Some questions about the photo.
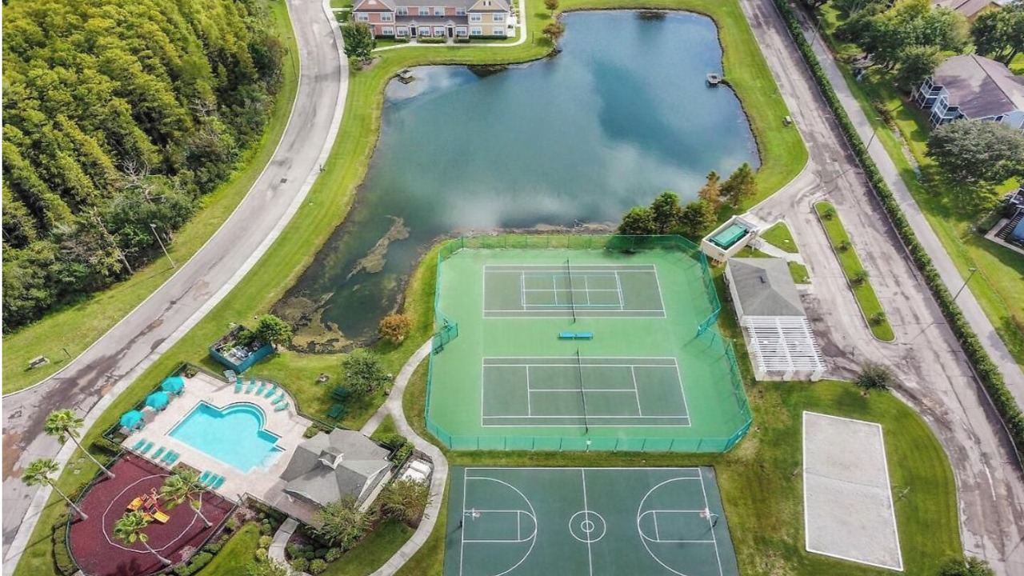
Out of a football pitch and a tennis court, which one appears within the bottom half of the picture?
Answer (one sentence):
You can see a tennis court within the bottom half of the picture.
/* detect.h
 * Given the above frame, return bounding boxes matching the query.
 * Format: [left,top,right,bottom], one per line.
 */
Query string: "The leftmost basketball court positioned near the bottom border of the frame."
[443,467,738,576]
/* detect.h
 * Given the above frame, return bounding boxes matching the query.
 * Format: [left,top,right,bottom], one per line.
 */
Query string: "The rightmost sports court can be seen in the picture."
[786,410,911,571]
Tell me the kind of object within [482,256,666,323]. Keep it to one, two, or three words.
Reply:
tennis court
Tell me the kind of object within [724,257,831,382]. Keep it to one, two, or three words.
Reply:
building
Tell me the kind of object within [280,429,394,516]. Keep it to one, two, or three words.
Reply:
building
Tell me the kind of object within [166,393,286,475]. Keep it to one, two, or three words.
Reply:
swimming pool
